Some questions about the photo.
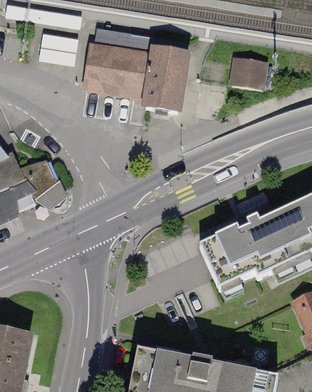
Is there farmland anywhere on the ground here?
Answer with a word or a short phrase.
No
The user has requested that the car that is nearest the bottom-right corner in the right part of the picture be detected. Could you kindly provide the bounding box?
[188,290,204,314]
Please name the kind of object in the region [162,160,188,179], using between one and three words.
vehicle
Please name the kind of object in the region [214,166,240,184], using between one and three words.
car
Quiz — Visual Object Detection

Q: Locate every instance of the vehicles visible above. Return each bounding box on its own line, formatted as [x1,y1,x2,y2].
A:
[162,160,188,179]
[103,97,114,119]
[87,93,98,118]
[42,134,62,156]
[0,32,6,56]
[119,99,130,123]
[164,300,180,324]
[0,229,10,242]
[188,290,204,314]
[114,344,126,367]
[214,166,240,184]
